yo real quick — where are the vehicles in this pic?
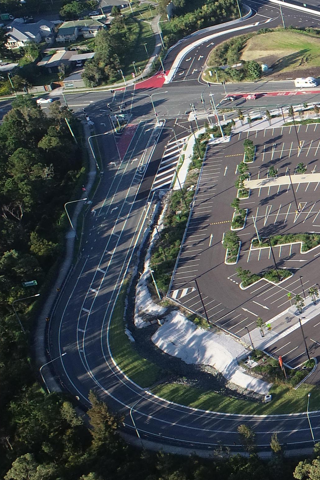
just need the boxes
[224,95,238,101]
[245,94,259,100]
[36,97,52,104]
[293,77,317,87]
